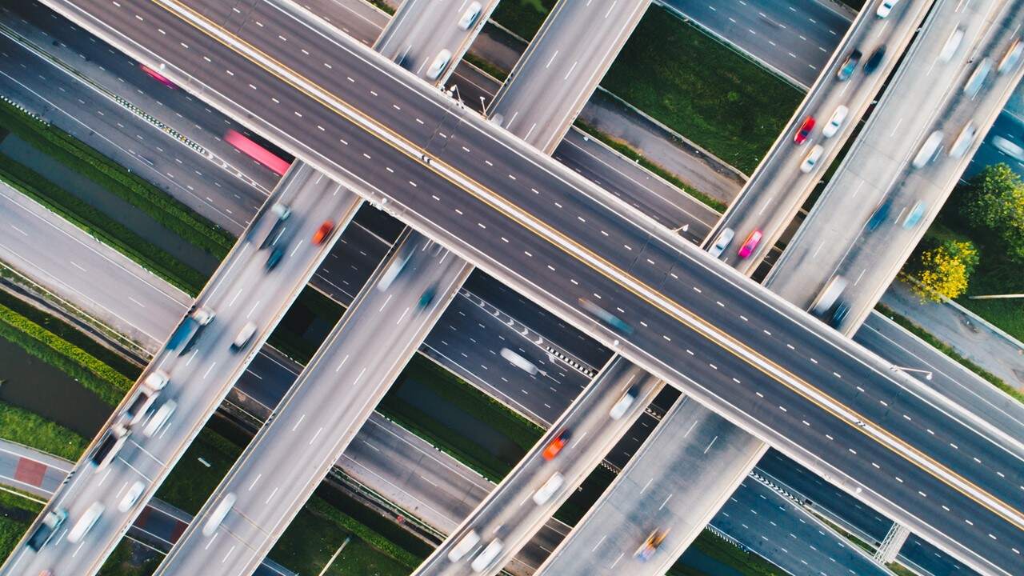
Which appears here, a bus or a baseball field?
bus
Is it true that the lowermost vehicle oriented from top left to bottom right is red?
No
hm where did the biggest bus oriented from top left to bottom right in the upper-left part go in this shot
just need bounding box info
[223,128,290,177]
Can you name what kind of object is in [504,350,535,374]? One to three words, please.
vehicle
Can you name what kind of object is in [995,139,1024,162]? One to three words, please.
vehicle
